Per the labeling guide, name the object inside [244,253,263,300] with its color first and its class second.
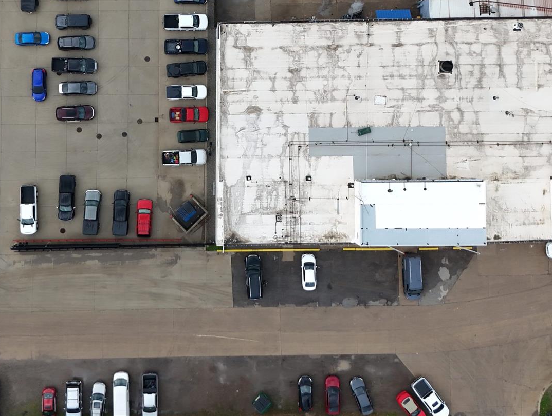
black car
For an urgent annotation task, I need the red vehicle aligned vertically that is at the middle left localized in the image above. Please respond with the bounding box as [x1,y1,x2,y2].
[136,197,154,237]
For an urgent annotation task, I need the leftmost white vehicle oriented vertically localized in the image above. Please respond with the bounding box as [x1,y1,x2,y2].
[17,183,39,234]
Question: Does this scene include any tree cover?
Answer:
No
